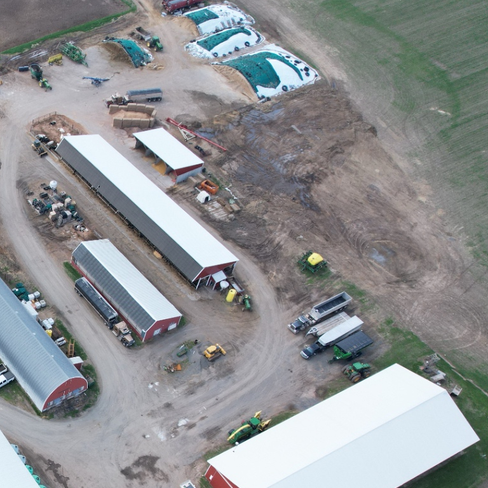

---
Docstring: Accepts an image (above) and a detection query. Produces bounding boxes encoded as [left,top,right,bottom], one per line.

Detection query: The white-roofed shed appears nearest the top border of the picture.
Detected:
[137,128,198,182]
